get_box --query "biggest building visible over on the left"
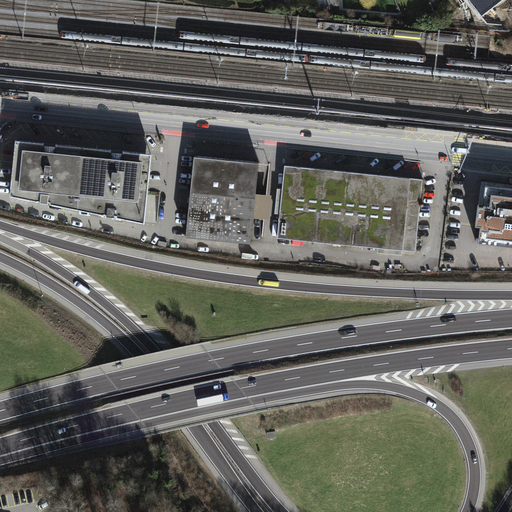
[9,140,151,224]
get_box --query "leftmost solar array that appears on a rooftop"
[80,158,106,196]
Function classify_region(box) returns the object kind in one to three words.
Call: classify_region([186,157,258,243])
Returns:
building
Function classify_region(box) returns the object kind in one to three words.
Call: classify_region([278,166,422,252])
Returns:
building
